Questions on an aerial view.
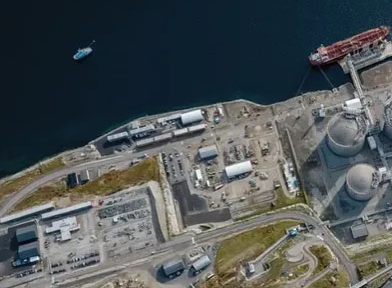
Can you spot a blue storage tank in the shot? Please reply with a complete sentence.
No, there's no blue storage tank here.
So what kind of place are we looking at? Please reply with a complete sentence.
The picture captures a port.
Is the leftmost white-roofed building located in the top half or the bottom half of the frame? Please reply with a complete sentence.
You can find the leftmost white-roofed building in the bottom half.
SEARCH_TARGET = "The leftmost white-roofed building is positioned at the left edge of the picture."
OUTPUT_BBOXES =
[0,203,56,225]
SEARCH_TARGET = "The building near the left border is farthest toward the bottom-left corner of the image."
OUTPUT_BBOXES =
[15,241,40,261]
